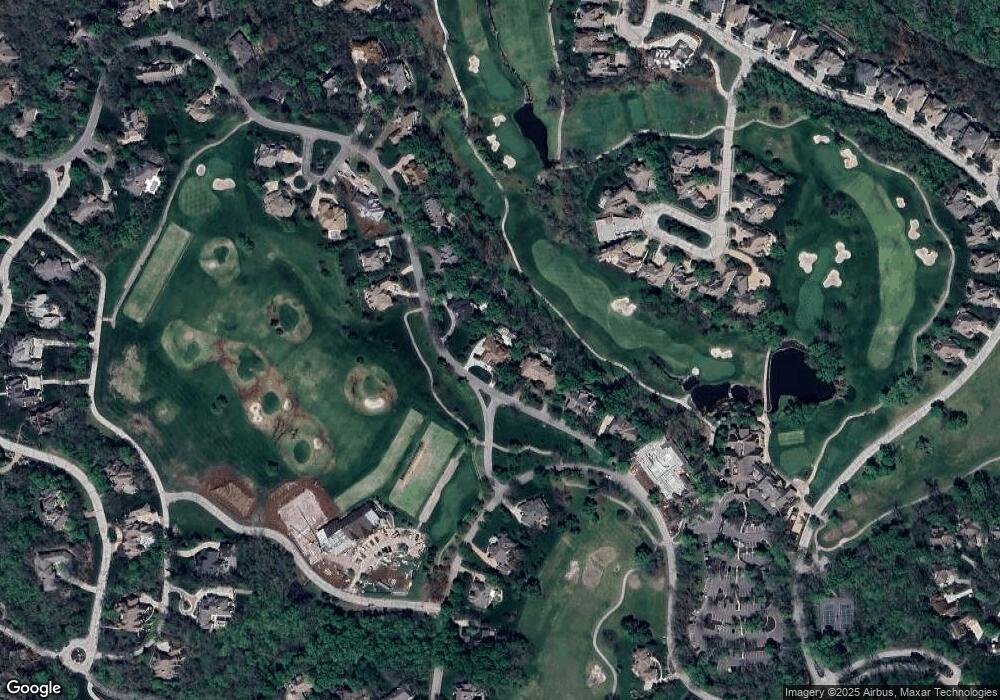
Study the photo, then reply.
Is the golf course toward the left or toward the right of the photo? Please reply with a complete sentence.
The golf course is on the right side of the image.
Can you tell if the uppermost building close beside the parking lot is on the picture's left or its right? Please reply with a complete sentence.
You can find the uppermost building close beside the parking lot on the right side of the picture.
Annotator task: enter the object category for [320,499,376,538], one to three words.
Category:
building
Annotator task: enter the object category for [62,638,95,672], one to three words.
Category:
roundabout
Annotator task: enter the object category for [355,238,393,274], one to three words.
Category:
house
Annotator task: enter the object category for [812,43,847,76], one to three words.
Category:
house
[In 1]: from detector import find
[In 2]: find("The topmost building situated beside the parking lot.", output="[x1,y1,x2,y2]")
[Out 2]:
[721,427,798,513]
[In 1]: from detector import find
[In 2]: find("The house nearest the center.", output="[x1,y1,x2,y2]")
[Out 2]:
[479,334,507,366]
